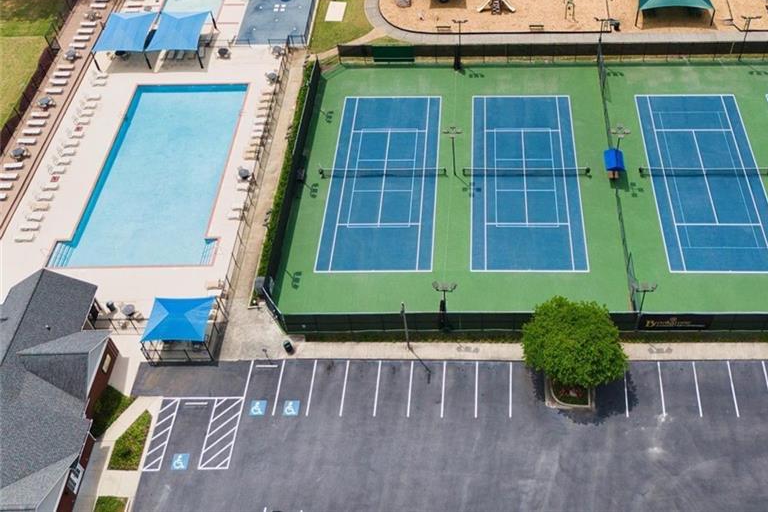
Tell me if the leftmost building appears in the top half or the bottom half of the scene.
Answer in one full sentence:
The leftmost building sits in the bottom half of the picture.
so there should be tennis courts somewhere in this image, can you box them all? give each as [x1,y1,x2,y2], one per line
[470,95,589,272]
[635,94,768,273]
[314,96,442,272]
